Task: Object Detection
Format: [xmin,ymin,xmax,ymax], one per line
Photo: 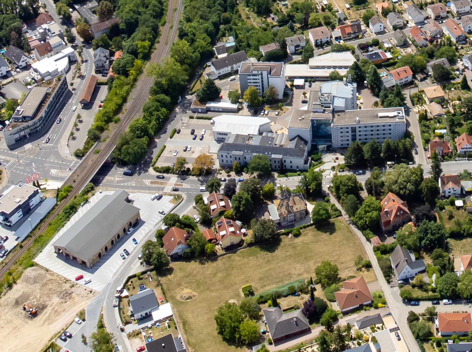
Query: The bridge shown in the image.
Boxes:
[64,146,114,193]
